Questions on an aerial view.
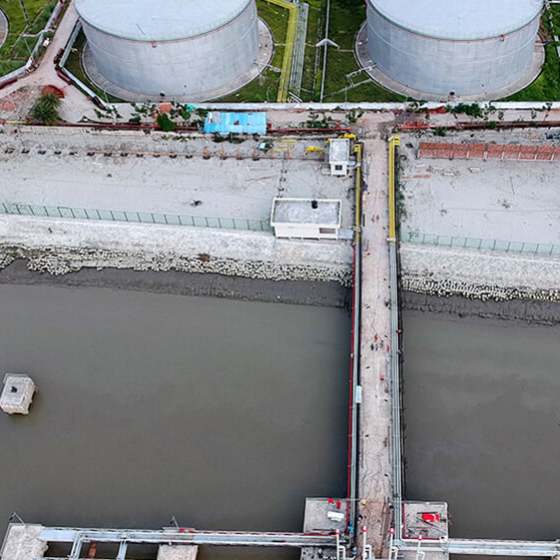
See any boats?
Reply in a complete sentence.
No, there is no boat in the image.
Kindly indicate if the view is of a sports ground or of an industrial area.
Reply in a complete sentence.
What you see here is an industrial area.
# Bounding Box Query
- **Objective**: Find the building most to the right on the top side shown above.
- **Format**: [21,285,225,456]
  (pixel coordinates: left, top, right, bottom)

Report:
[328,137,350,175]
